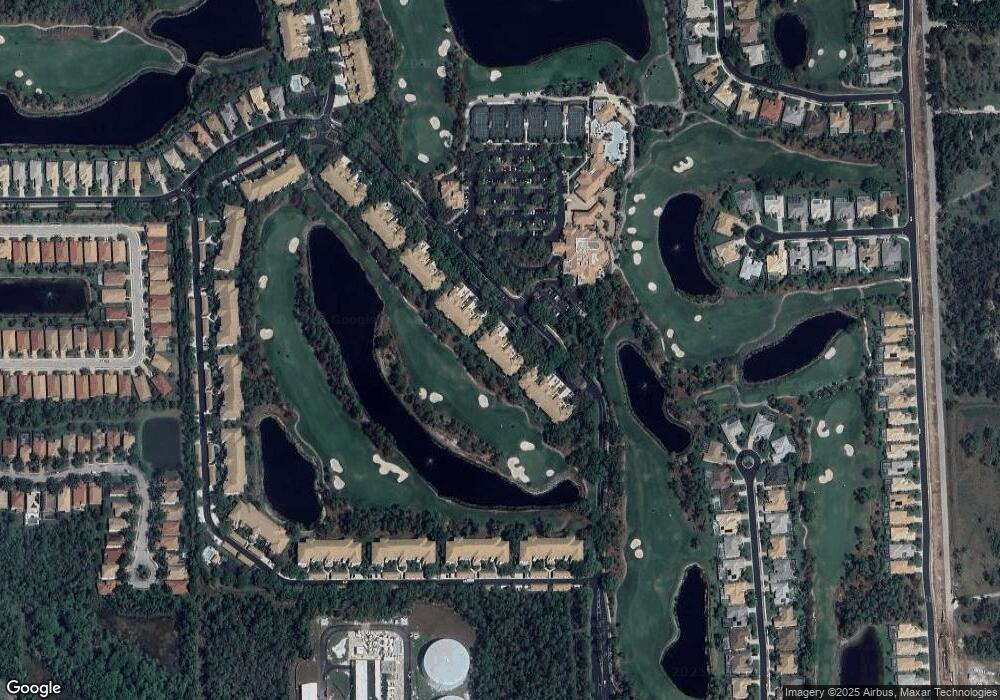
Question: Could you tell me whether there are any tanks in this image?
Yes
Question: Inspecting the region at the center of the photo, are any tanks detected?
No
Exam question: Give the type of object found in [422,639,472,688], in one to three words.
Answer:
storage tank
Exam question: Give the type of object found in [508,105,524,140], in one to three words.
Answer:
tennis court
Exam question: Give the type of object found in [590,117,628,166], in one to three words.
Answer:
swimming pool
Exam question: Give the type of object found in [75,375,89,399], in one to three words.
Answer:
house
